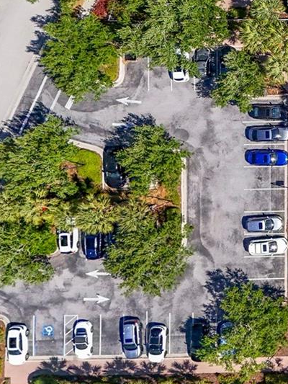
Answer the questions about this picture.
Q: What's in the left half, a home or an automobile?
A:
automobile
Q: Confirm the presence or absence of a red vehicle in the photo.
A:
No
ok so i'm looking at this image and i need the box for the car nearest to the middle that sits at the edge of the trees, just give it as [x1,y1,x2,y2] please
[101,145,124,187]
